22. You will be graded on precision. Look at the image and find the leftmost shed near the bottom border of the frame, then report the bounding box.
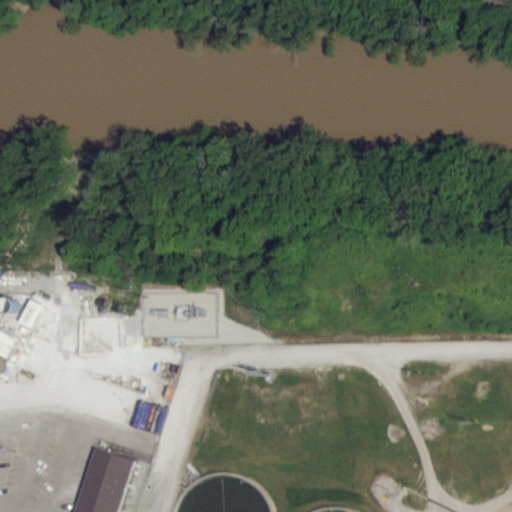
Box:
[78,447,137,512]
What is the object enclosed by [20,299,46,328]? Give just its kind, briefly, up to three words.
shed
